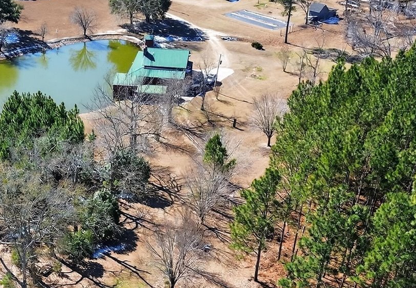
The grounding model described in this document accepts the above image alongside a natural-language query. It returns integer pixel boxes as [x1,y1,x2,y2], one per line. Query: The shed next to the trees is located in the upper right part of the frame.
[310,4,337,22]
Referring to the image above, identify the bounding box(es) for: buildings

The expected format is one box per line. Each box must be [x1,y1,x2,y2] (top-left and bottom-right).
[310,4,337,22]
[104,39,196,96]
